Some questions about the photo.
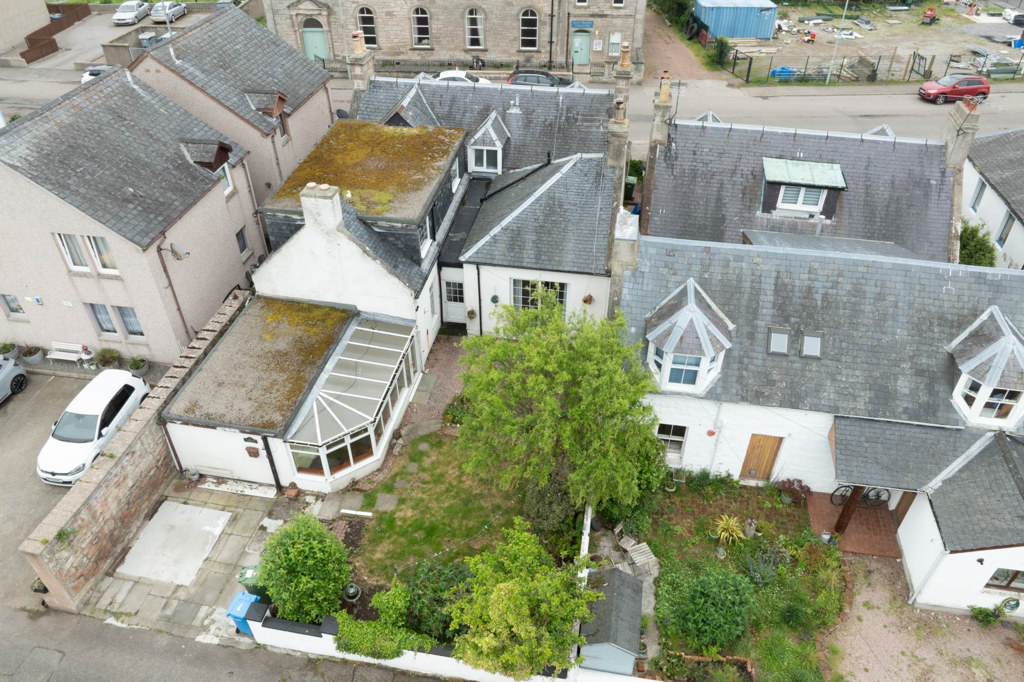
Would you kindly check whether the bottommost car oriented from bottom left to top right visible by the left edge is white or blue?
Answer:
white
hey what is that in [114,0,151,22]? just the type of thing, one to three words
car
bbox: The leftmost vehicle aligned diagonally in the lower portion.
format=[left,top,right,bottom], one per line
[28,364,154,478]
